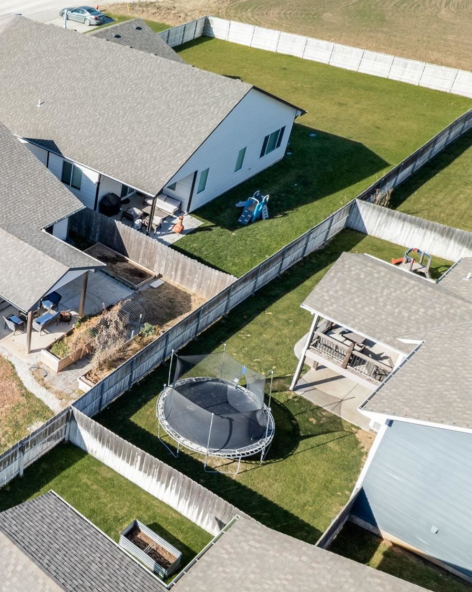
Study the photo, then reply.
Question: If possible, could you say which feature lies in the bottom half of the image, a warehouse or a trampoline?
trampoline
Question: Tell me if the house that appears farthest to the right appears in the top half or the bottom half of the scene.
bottom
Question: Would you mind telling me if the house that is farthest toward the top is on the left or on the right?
left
